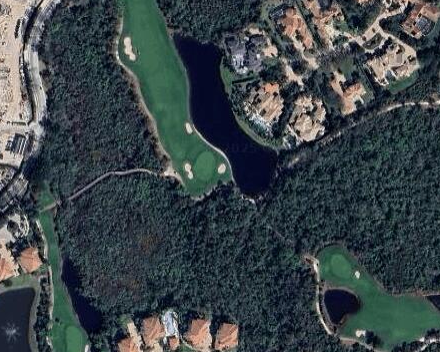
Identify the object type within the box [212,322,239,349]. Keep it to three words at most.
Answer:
house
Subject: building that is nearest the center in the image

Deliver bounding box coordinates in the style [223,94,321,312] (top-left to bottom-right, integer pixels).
[242,87,280,123]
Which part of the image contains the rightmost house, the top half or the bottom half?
top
